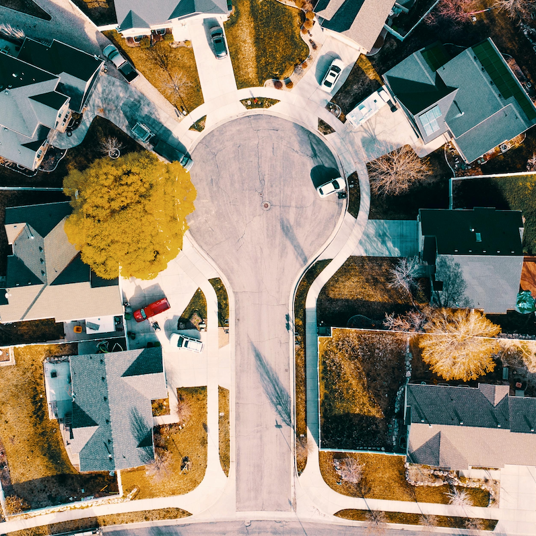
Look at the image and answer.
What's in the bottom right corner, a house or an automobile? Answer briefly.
house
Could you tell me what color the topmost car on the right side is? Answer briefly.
white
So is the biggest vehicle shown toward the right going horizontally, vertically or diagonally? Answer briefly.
diagonally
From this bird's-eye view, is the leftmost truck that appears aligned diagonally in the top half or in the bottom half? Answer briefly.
top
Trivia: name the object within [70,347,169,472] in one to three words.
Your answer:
house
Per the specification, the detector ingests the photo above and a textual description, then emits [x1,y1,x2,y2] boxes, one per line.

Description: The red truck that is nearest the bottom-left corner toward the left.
[133,296,172,324]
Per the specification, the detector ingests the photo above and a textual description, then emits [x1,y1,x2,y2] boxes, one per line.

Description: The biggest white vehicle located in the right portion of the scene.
[345,91,386,131]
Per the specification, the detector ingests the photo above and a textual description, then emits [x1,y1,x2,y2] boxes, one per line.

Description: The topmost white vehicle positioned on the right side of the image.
[322,56,345,95]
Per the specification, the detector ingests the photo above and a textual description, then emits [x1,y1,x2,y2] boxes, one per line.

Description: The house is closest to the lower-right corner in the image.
[404,383,536,468]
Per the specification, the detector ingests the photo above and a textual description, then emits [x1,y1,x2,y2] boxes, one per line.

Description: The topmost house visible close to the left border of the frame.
[0,36,106,169]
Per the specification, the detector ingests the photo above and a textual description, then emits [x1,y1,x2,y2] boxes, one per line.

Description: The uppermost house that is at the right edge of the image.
[382,36,536,164]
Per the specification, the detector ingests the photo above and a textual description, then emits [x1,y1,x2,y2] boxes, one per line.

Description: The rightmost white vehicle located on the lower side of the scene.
[168,332,206,355]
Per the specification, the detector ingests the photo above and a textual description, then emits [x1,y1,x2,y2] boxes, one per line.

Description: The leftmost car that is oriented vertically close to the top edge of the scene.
[207,21,227,61]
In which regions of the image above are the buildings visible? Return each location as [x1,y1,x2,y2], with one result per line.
[70,347,169,472]
[313,0,396,55]
[382,36,536,164]
[0,199,125,323]
[0,36,106,169]
[404,383,536,468]
[113,0,230,35]
[418,208,530,315]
